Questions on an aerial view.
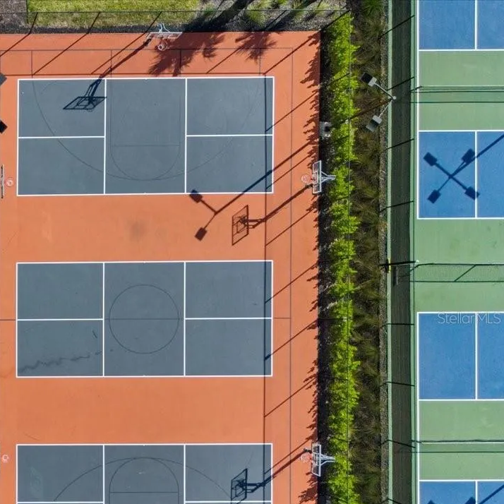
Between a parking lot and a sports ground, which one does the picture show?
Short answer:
sports ground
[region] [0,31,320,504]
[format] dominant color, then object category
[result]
orange basketball court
